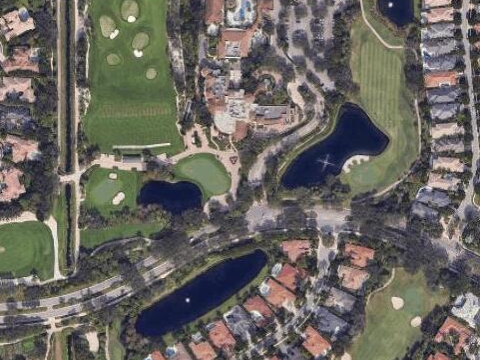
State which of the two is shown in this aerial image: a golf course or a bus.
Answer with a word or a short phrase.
golf course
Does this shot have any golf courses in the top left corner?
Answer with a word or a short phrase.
No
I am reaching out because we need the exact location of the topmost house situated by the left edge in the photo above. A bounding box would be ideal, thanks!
[0,9,35,42]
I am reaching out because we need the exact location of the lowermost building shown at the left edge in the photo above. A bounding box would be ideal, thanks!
[0,167,23,201]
